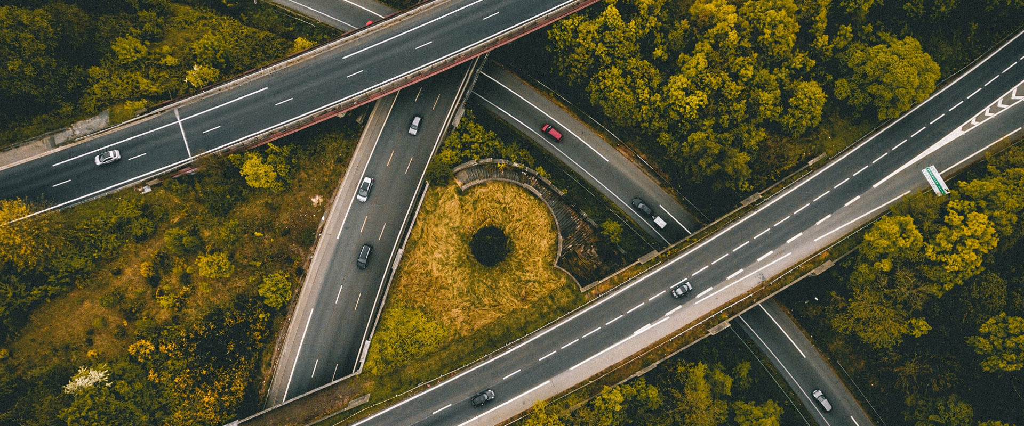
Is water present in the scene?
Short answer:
No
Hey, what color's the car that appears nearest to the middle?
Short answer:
red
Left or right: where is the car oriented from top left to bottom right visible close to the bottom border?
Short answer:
right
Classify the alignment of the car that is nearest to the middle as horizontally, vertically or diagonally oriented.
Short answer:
diagonally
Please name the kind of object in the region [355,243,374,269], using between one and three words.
car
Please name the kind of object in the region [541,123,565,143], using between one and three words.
car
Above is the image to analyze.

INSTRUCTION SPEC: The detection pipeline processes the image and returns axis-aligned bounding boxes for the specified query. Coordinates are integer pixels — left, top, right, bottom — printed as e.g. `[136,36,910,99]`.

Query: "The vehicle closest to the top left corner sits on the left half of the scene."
[92,148,120,165]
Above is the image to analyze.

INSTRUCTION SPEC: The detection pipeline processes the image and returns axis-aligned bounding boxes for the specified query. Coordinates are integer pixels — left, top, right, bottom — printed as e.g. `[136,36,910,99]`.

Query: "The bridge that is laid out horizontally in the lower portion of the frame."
[217,371,378,426]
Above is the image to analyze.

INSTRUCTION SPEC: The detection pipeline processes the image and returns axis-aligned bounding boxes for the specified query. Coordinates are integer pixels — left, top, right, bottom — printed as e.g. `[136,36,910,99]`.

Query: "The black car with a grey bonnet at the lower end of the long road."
[470,390,495,409]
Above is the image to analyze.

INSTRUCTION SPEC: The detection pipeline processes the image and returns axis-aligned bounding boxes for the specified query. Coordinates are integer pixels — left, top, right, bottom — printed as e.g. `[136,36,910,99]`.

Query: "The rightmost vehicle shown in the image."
[812,390,837,416]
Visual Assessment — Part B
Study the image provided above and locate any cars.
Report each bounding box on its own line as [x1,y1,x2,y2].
[670,280,694,299]
[631,195,656,217]
[355,243,374,269]
[406,115,422,135]
[92,148,120,165]
[812,390,837,416]
[541,123,565,143]
[354,175,376,202]
[470,390,495,409]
